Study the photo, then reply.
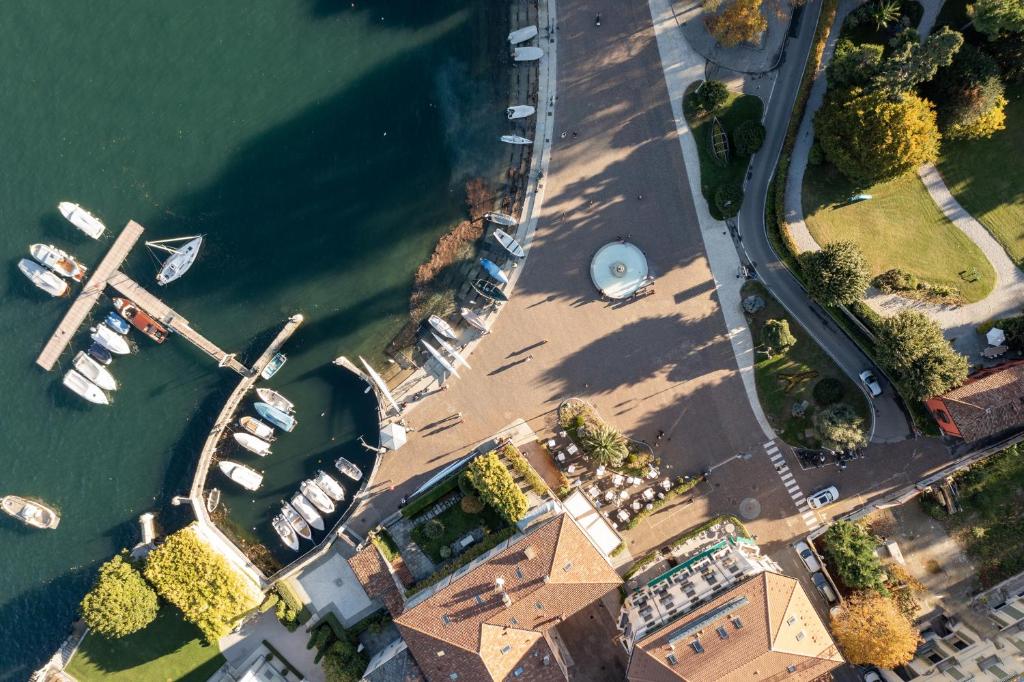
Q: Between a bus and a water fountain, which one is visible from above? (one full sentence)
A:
The one in the frame is a water fountain.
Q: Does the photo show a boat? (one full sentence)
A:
Yes, a boat is visible in the scene.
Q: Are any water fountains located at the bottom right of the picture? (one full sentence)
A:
No, no water fountain can be made out at the bottom right of the picture.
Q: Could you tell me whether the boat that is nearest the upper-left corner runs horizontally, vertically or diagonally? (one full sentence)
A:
The boat that is nearest the upper-left corner is oriented diagonally.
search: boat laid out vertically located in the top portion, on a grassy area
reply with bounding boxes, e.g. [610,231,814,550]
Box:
[712,115,729,164]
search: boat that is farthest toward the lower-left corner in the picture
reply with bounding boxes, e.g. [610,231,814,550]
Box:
[0,498,62,532]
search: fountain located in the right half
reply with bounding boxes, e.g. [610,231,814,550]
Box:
[589,240,649,300]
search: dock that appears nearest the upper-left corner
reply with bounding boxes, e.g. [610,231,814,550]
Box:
[36,221,251,378]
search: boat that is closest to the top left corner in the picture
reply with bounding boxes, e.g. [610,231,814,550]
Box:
[56,204,106,240]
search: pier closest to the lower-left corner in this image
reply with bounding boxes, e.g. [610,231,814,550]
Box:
[141,509,159,540]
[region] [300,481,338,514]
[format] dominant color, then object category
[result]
white boat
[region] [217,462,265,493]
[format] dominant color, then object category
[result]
white boat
